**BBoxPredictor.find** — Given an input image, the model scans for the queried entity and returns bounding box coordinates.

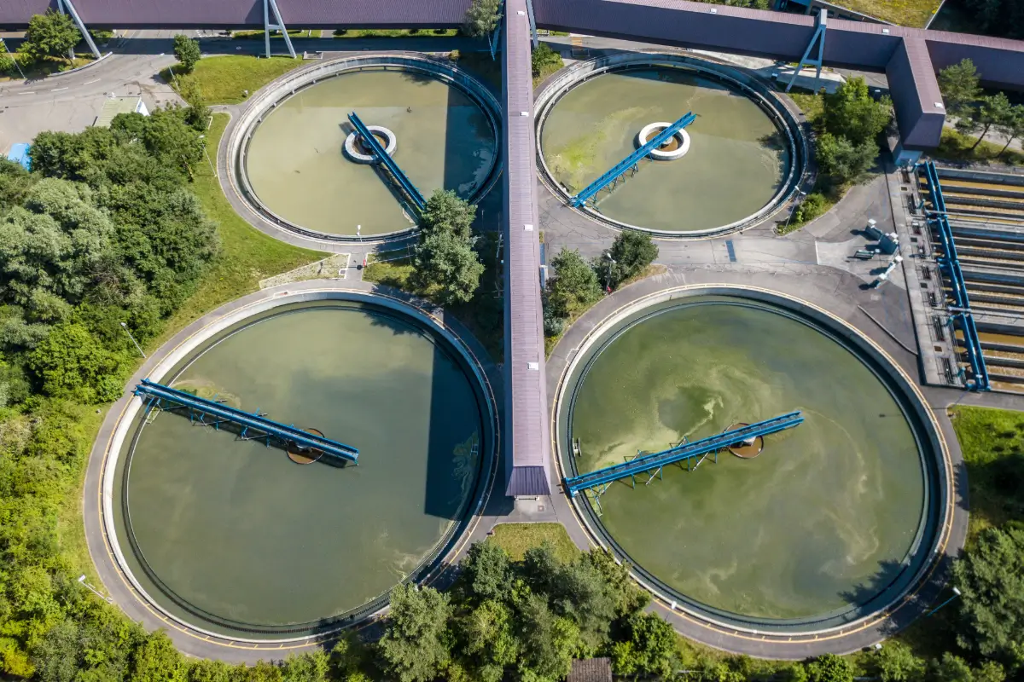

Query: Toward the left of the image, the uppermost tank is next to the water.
[226,52,502,244]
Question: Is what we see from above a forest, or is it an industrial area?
industrial area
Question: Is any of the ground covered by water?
Yes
